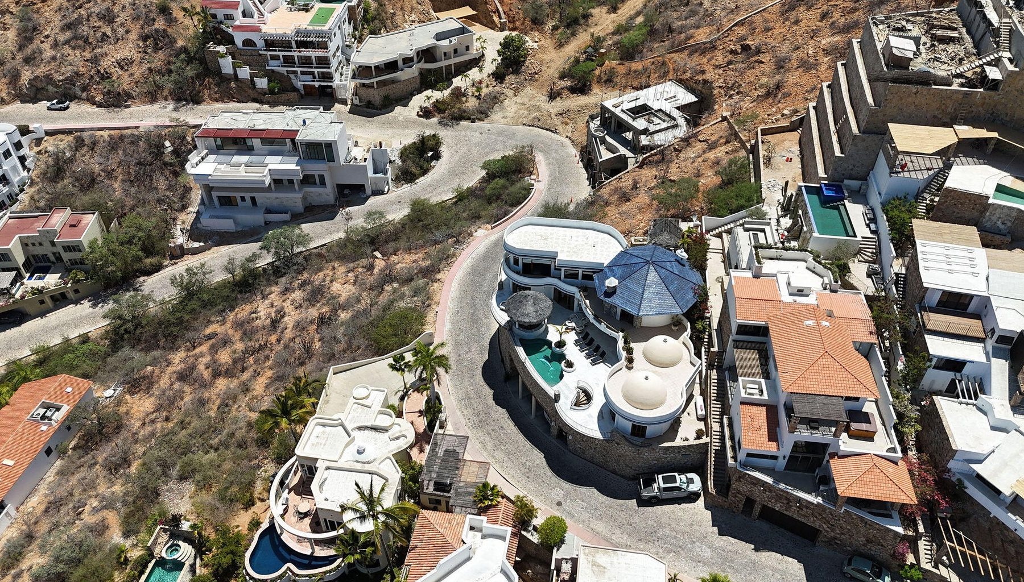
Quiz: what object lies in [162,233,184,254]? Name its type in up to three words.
building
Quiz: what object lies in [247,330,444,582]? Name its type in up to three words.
house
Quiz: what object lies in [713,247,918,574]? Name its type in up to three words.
house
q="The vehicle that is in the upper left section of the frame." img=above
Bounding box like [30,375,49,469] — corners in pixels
[42,98,71,111]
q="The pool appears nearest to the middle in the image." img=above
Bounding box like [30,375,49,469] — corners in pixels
[520,340,565,385]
